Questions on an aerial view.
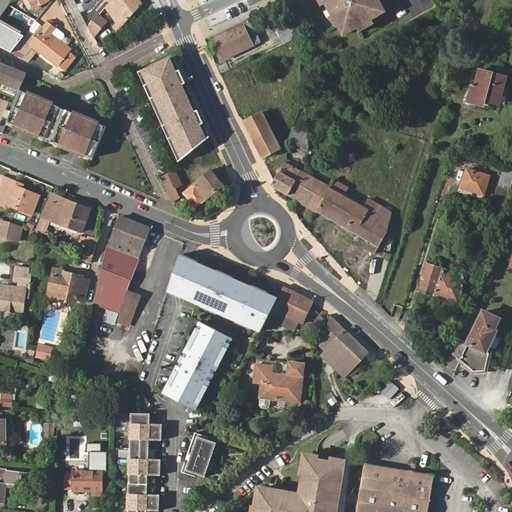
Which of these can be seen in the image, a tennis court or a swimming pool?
swimming pool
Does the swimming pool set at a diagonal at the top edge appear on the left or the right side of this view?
left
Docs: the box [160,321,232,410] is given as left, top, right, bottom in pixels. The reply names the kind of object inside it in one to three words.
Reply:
building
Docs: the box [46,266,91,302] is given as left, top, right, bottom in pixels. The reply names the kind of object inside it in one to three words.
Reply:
house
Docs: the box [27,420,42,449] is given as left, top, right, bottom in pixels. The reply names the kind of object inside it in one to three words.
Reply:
swimming pool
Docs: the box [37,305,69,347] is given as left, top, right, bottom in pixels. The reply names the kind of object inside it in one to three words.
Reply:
swimming pool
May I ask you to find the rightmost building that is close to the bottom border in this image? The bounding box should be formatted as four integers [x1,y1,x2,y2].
[356,462,435,512]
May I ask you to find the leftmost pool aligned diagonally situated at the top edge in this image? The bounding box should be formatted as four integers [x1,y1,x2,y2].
[6,6,40,34]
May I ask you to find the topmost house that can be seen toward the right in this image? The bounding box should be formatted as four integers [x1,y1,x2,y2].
[314,0,384,37]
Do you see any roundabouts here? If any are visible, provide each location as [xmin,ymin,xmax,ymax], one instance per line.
[228,198,296,268]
